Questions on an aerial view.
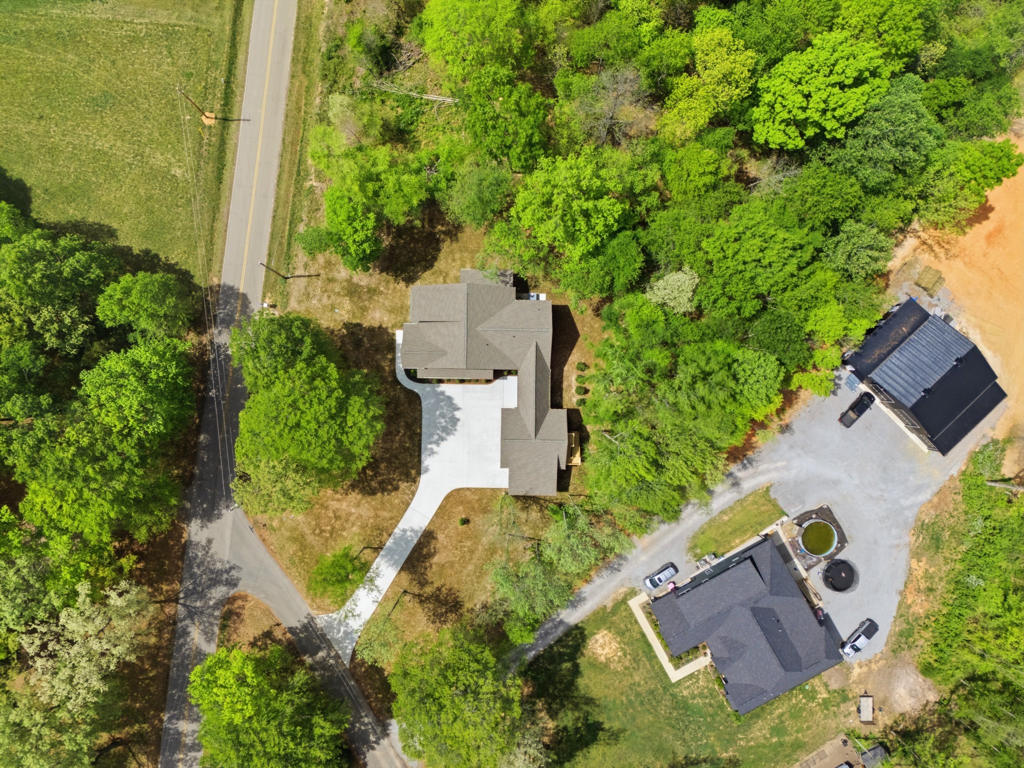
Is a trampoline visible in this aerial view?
Yes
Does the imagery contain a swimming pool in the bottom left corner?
No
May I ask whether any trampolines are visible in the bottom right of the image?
Yes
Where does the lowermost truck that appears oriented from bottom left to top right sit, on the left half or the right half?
right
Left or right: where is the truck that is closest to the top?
right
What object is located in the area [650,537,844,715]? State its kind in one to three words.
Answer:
house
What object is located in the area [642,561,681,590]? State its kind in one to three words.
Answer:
car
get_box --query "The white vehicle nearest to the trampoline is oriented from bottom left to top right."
[841,614,883,661]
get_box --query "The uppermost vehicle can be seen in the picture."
[837,388,880,433]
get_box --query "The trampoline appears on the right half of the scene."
[822,559,865,597]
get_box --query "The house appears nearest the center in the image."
[400,269,568,496]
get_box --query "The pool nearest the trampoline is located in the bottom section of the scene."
[799,518,841,558]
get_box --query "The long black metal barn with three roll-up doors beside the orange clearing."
[844,297,1007,456]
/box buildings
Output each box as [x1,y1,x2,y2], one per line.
[844,297,1007,456]
[400,269,568,496]
[853,737,888,768]
[650,537,844,715]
